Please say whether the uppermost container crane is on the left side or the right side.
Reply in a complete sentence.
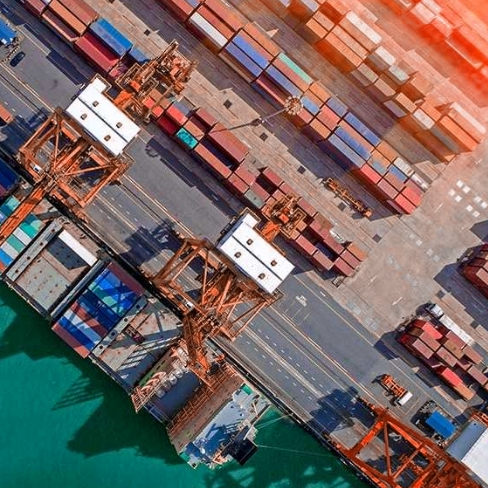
The uppermost container crane is on the left side of the image.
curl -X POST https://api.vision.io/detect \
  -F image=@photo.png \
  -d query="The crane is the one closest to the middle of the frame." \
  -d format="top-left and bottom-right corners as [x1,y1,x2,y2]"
[141,177,335,390]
